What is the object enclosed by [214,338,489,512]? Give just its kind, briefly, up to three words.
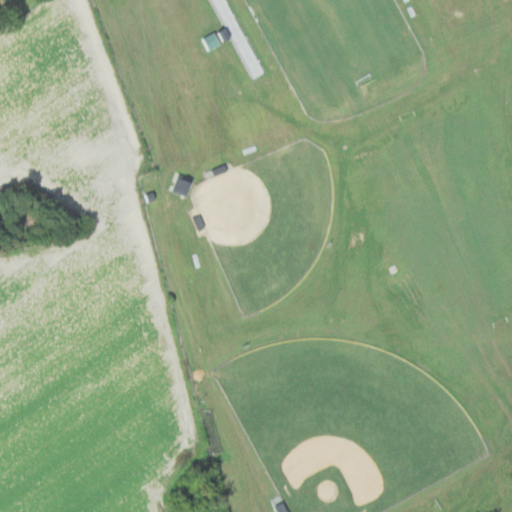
baseball field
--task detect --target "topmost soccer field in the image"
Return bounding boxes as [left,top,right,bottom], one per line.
[244,0,426,124]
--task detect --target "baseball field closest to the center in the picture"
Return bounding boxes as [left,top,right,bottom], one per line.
[189,138,334,318]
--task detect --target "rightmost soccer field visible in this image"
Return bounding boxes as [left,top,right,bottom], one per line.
[376,92,512,335]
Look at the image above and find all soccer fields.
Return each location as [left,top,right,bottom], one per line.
[244,0,426,124]
[376,92,512,335]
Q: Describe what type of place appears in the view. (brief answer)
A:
sports ground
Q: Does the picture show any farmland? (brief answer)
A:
Yes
